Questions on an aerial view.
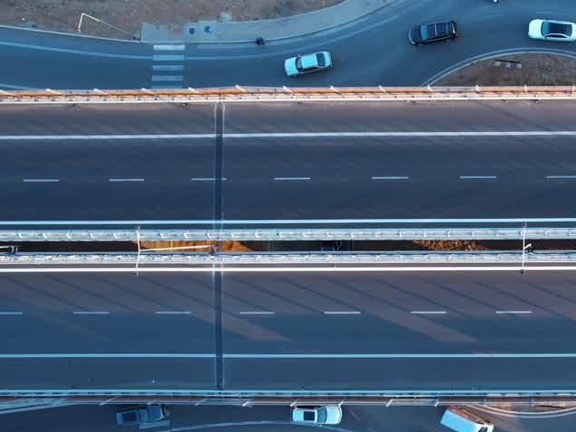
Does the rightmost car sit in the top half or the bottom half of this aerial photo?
top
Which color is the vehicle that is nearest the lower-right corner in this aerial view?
blue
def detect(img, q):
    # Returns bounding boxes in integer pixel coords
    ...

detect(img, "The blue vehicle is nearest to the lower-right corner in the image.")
[439,406,493,432]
